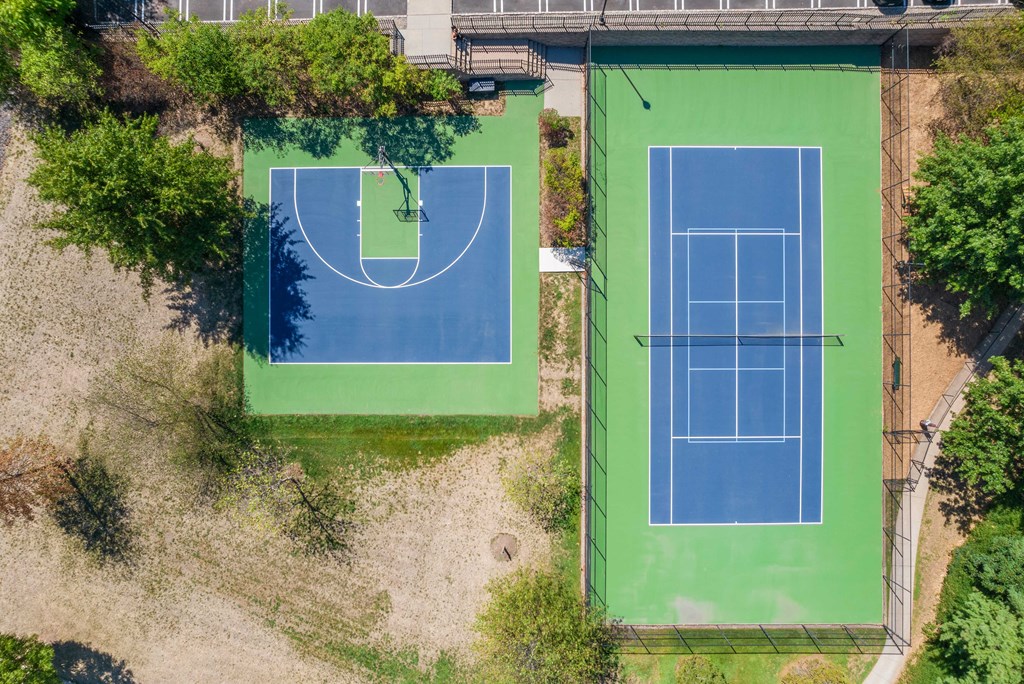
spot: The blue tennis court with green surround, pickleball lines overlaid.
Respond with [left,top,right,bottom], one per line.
[585,46,882,624]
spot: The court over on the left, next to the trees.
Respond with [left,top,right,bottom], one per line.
[243,82,545,415]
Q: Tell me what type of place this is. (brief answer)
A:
sports ground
